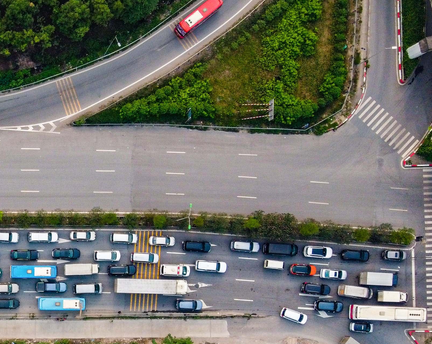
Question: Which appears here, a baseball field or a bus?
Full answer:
It is a bus that can be seen here.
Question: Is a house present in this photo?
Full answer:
No, the picture doesn't show any house.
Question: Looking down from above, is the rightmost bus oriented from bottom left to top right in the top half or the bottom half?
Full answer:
The top half of the photo is where the rightmost bus oriented from bottom left to top right is.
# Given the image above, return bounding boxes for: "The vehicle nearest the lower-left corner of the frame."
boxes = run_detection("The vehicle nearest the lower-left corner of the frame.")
[0,298,19,310]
